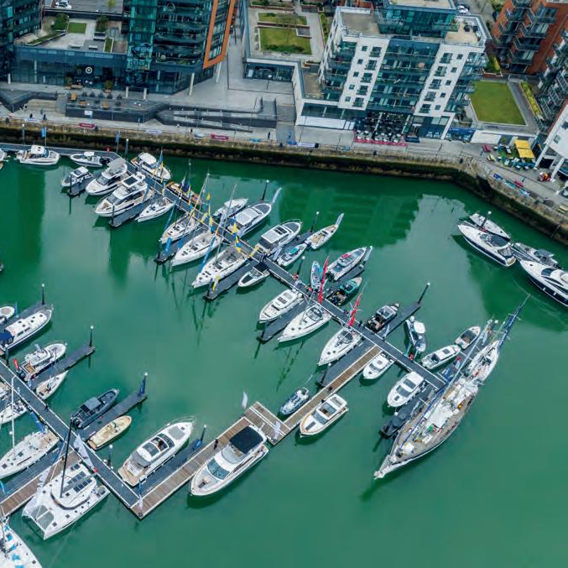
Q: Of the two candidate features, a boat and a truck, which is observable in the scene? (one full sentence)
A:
I can see a boat in this picture.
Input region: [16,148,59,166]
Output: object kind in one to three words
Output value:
boat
